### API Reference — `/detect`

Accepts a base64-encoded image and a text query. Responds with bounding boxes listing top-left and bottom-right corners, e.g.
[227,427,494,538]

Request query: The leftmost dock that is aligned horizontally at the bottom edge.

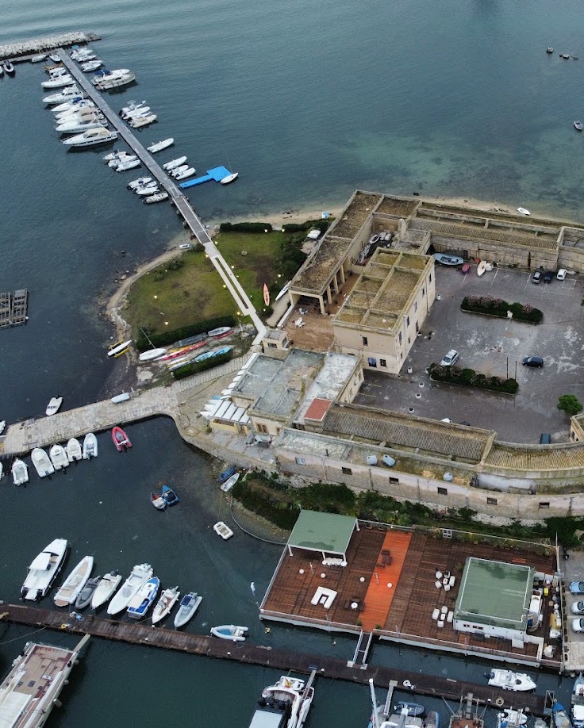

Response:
[0,603,557,716]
